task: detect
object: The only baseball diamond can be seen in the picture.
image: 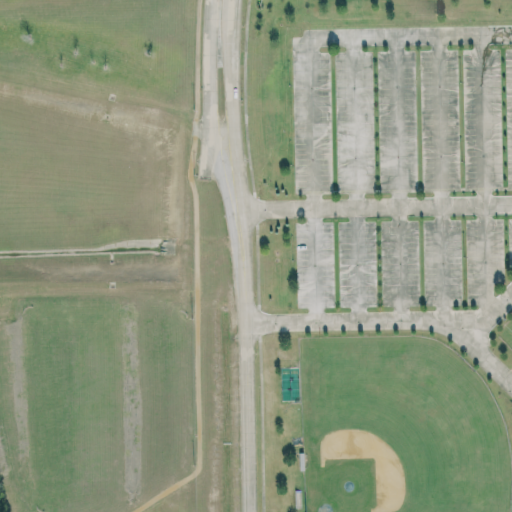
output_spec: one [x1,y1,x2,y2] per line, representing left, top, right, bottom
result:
[300,336,511,512]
